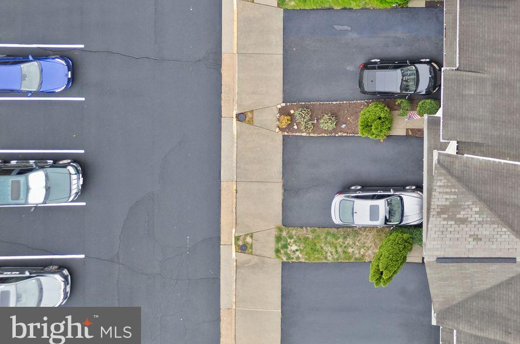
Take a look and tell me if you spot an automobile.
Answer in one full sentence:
Yes, looking at the shot, I can spot an automobile.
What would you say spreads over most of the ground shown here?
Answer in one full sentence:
The scene is dominated by paved ground.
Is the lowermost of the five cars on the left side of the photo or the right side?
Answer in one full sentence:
The lowermost of the five cars sits on the left side.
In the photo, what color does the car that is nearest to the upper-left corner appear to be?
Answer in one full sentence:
The car that is nearest to the upper-left corner looks blue in the image.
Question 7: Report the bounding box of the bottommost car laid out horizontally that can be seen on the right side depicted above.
[328,184,424,231]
